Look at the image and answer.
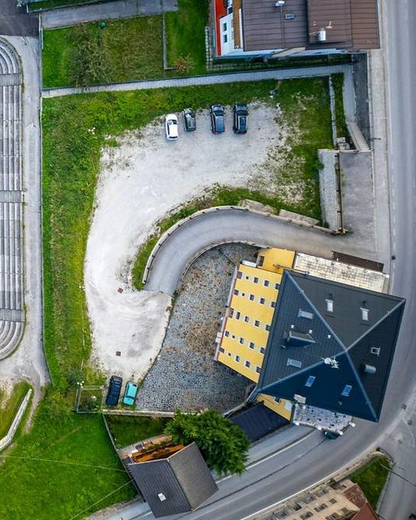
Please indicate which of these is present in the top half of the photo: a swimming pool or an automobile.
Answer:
automobile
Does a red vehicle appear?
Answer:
No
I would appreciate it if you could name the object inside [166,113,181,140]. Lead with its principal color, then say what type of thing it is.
white car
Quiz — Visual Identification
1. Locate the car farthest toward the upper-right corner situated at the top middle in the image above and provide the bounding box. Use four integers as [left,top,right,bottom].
[234,105,250,134]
